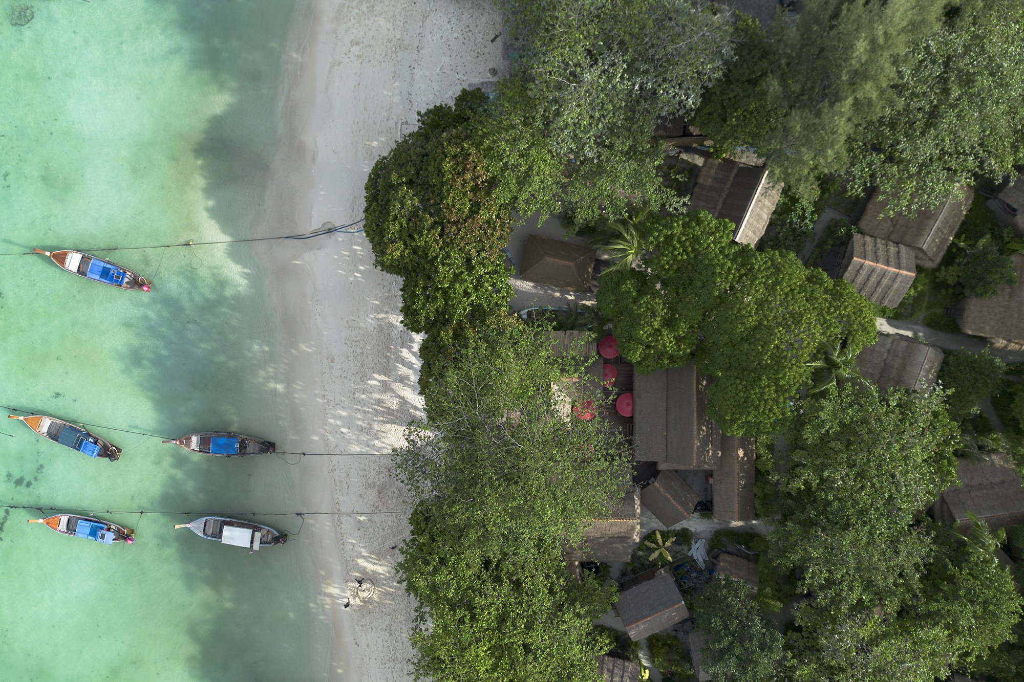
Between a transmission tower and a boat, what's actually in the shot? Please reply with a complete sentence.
There is a boat in the scene.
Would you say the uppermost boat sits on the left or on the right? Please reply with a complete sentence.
The uppermost boat sits on the left side.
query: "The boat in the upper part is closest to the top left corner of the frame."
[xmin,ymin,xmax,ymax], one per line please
[33,248,156,297]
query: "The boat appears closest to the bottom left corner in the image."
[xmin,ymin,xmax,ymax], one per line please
[27,514,138,547]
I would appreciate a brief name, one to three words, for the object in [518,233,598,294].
shed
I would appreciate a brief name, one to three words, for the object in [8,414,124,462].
boat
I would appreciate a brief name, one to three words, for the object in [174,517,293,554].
boat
